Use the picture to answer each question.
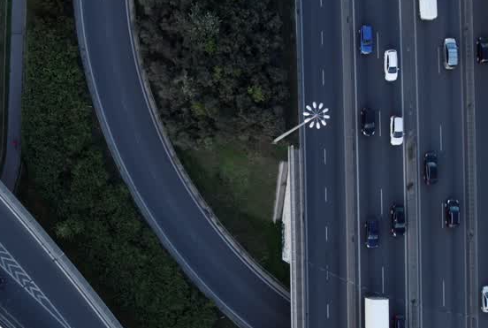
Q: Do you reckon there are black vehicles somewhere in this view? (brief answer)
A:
Yes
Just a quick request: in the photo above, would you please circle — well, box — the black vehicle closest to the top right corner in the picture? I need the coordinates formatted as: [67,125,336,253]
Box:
[475,38,488,64]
